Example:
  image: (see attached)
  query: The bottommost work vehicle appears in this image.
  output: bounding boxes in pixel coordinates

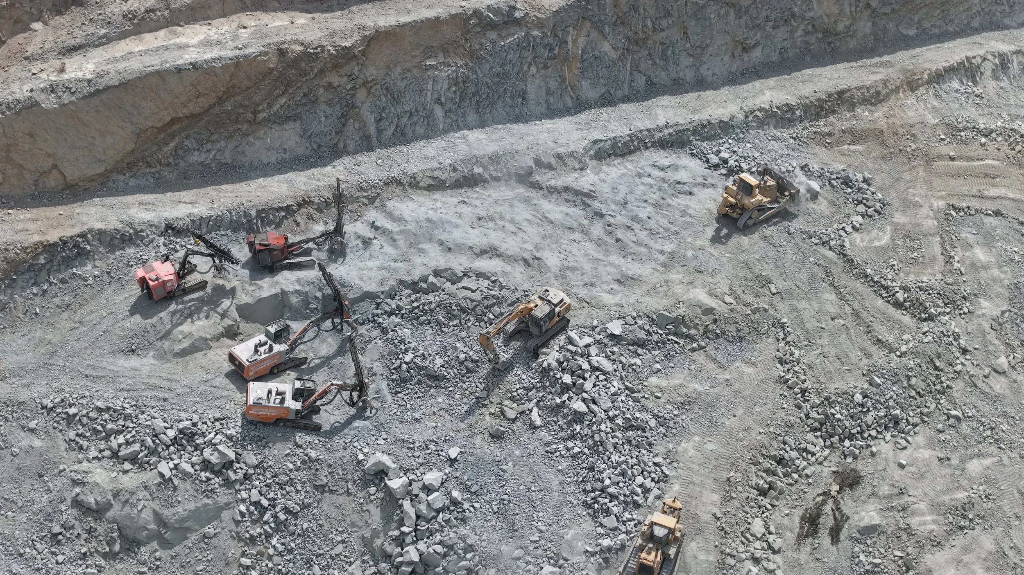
[626,499,687,575]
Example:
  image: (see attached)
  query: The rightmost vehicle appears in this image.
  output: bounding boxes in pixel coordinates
[717,165,802,231]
